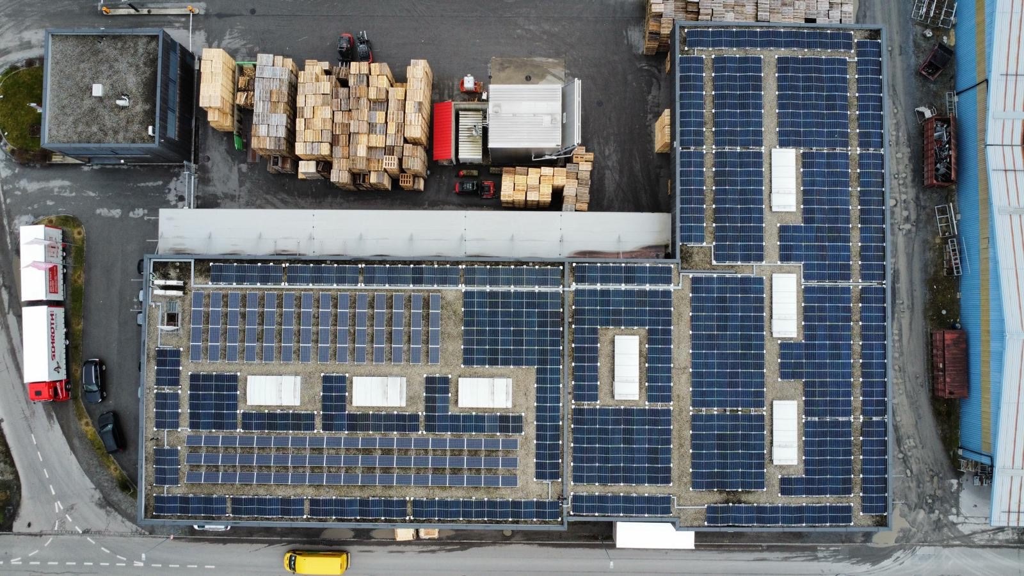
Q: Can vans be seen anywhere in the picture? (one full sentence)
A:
Yes, there's a van here.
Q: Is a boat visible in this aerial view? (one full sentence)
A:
No, the scene contains no boat.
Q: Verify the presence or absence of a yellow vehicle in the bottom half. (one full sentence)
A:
Yes, a yellow vehicle can be seen in the bottom half.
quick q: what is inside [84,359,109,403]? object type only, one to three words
car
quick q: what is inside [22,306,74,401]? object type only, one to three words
truck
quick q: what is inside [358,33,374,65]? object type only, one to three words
work vehicle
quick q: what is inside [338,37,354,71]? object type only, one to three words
work vehicle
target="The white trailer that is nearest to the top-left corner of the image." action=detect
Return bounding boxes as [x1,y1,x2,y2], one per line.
[20,225,71,306]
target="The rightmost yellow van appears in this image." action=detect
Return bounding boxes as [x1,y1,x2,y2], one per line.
[287,546,354,574]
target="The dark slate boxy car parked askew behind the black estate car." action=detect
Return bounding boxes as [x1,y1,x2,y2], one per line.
[98,410,127,455]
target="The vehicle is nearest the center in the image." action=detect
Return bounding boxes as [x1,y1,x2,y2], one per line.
[458,181,492,198]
